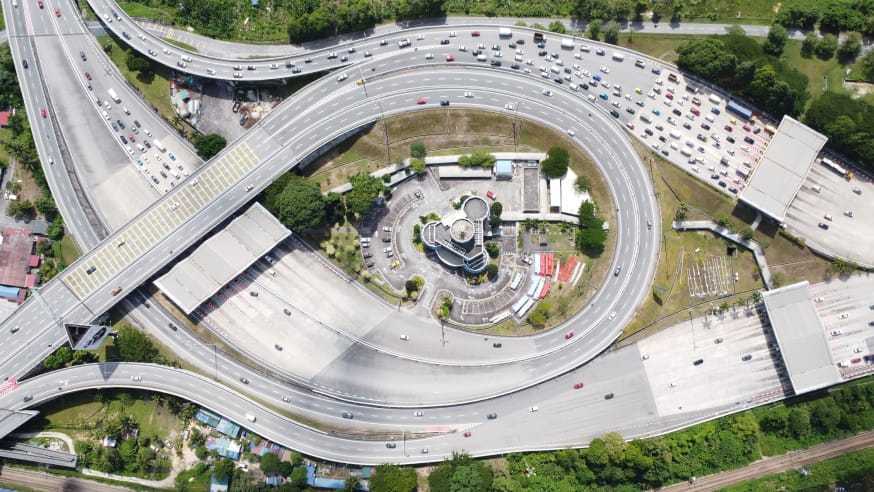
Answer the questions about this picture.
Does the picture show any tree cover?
Yes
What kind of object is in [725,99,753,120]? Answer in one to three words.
vehicle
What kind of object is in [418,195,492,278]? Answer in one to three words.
building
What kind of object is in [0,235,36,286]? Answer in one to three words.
building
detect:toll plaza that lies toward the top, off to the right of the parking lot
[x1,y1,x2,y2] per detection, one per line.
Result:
[727,114,830,225]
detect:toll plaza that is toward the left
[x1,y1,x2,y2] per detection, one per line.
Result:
[152,201,271,310]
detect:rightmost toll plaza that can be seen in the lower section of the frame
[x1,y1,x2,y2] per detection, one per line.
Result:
[762,281,850,395]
